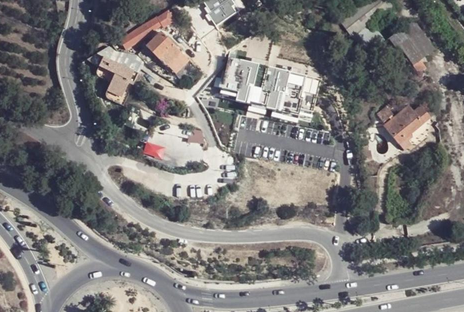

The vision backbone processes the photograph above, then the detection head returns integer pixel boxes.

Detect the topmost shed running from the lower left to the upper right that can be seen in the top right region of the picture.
[344,0,382,30]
